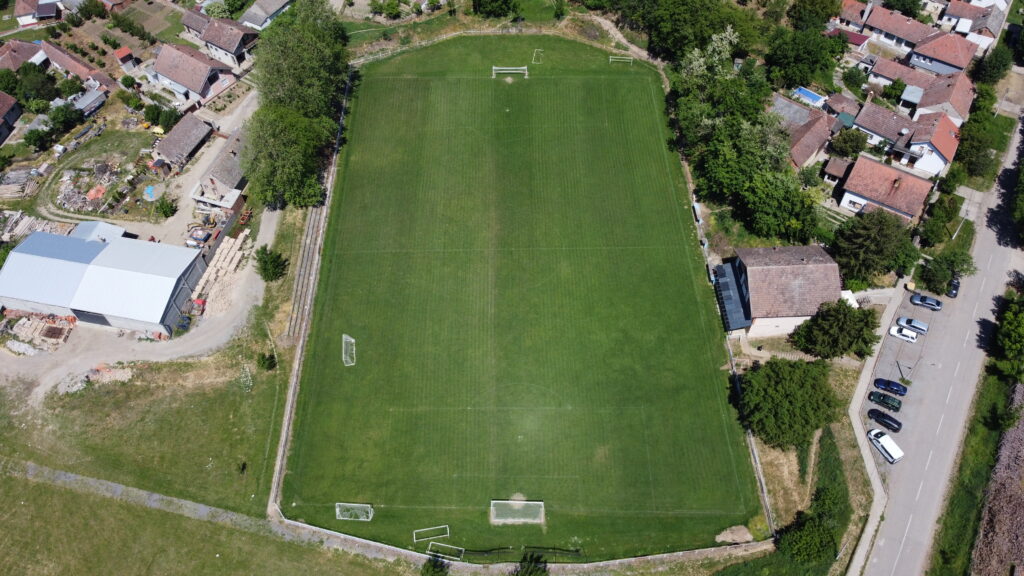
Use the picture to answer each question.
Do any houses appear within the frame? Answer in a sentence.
Yes, I can see a house in this picture.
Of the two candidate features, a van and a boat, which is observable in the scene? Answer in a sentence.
This aerial view contains a van.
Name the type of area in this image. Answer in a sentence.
What you see here is a sports ground.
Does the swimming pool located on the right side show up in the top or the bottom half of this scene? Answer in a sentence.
You can find the swimming pool located on the right side in the top half.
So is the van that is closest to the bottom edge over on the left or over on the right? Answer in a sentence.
The van that is closest to the bottom edge is on the right side of the image.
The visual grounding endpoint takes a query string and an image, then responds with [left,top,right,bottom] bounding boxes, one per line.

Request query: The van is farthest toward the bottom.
[866,427,910,464]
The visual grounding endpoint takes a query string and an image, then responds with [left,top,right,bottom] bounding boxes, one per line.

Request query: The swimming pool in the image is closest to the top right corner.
[792,87,829,109]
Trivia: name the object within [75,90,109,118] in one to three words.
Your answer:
shed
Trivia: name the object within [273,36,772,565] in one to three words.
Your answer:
soccer field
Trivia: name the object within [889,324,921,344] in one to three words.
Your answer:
car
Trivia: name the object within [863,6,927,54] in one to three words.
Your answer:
house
